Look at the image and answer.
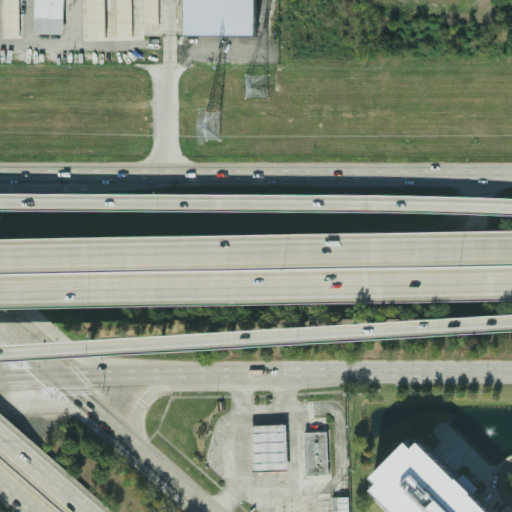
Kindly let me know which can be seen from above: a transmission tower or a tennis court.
transmission tower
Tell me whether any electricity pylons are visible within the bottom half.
No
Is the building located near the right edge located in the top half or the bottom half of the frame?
bottom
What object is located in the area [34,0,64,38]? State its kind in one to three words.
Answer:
building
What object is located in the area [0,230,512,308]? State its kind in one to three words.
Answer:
overpass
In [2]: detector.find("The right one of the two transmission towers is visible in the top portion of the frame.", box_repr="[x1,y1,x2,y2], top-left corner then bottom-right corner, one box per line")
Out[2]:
[244,69,270,102]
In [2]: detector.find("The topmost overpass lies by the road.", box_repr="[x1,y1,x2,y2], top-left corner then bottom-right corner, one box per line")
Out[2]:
[0,194,512,216]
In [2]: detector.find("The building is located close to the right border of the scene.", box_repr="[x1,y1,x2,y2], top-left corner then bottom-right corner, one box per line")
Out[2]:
[367,442,488,512]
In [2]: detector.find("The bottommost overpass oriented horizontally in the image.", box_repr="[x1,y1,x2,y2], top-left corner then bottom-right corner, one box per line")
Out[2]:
[0,314,512,360]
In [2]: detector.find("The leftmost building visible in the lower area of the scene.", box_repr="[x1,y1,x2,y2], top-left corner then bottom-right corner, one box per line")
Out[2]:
[305,426,330,476]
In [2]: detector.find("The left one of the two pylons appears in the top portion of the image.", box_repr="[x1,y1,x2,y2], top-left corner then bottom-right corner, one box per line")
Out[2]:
[200,106,222,144]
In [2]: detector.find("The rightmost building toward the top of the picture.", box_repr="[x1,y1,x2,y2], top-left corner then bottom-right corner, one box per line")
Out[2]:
[182,0,255,36]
